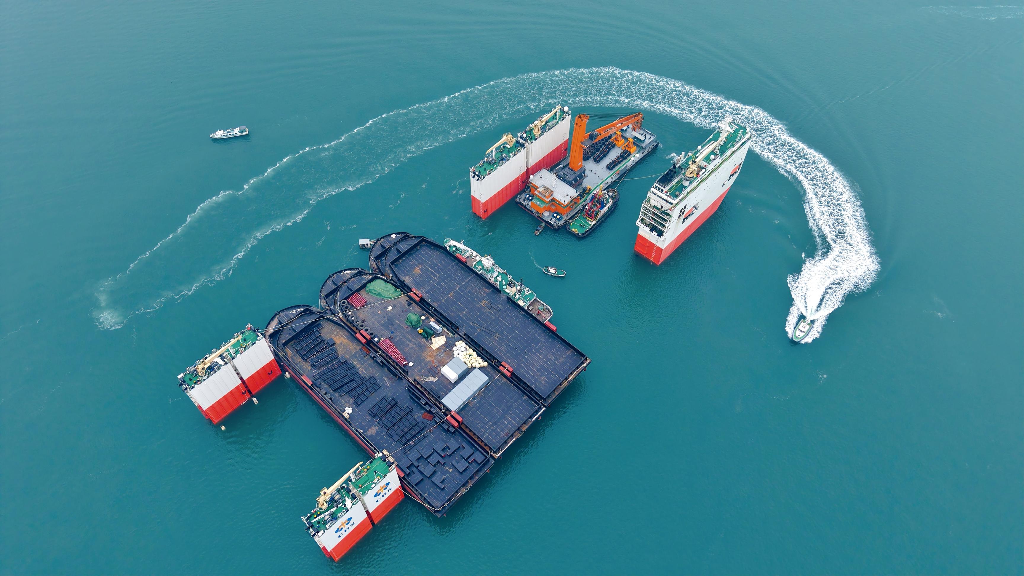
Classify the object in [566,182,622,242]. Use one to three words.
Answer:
boat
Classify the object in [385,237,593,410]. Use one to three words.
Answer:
ship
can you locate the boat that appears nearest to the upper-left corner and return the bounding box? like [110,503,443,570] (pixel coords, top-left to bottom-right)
[208,125,248,138]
